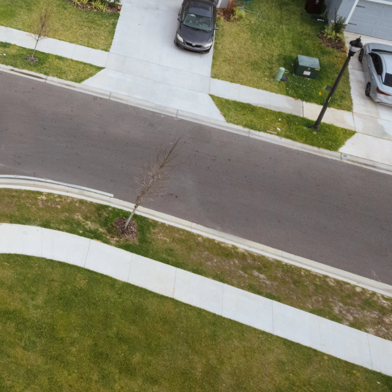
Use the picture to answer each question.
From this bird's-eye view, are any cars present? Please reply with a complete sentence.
Yes, a car appears in the view.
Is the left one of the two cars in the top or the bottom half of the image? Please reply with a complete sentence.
Seen from above, the left one of the two cars lies in the top half of the view.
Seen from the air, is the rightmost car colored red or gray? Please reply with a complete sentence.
From above, the rightmost car appears gray.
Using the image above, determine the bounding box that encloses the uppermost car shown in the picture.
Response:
[177,0,228,49]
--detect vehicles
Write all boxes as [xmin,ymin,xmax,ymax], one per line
[177,0,228,49]
[358,40,392,105]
